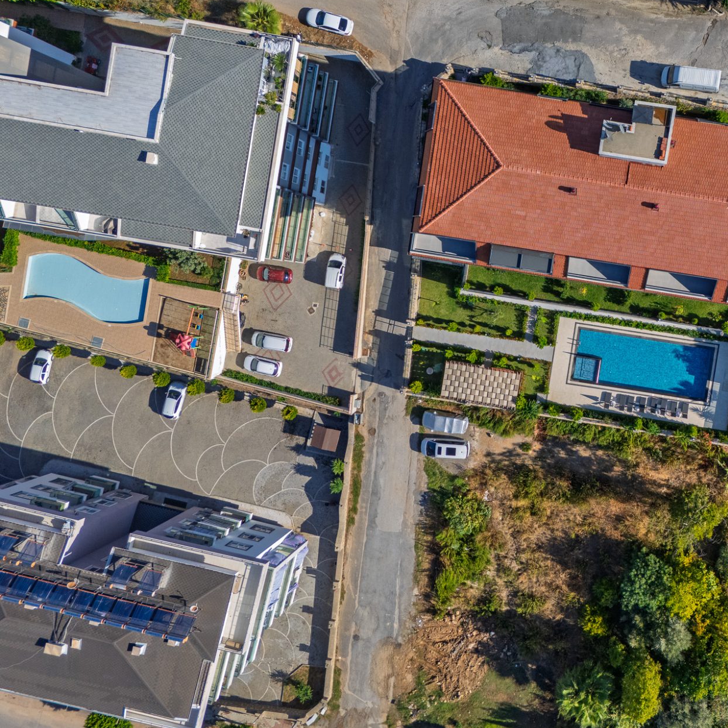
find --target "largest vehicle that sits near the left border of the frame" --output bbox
[24,349,57,386]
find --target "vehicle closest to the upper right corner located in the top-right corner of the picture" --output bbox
[661,63,722,94]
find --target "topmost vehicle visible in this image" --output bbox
[304,7,355,38]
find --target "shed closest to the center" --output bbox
[306,410,351,458]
